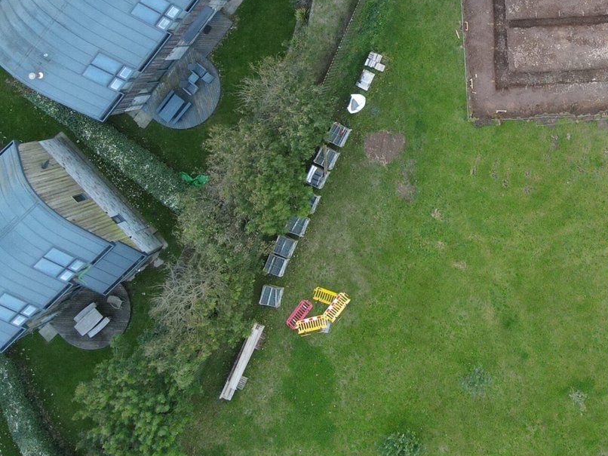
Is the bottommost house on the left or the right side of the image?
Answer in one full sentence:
The bottommost house sits on the left side.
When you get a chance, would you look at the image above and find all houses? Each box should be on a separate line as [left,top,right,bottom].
[0,125,178,356]
[0,0,236,123]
